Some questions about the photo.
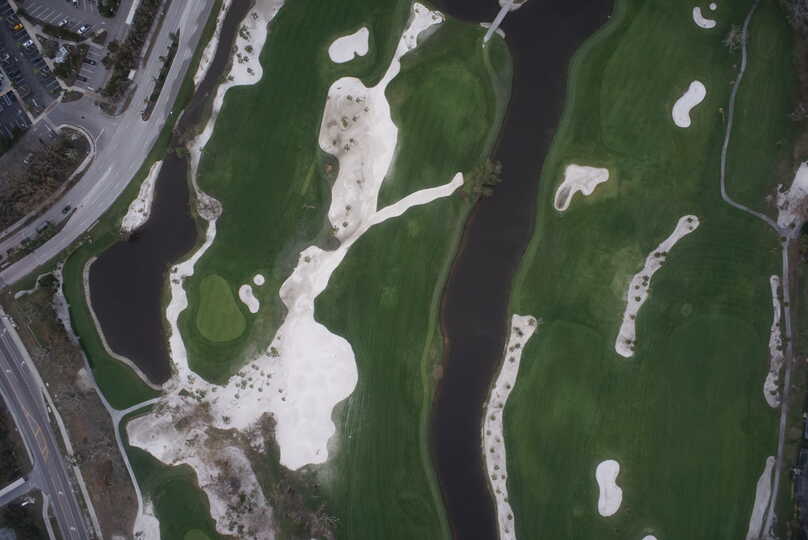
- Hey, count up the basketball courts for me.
zero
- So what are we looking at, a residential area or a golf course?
golf course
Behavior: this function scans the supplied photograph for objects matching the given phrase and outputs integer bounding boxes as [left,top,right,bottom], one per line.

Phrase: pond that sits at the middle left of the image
[88,152,199,387]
